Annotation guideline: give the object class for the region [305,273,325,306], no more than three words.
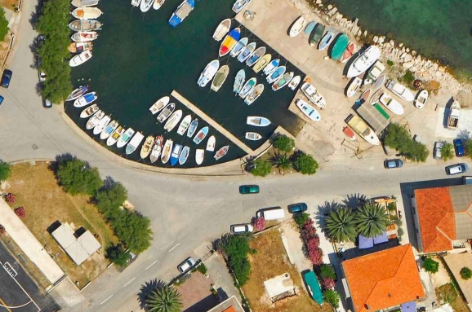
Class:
boat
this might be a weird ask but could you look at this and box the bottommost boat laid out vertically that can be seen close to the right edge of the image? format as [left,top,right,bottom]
[448,100,461,129]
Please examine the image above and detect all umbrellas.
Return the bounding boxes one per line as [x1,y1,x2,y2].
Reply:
[358,235,372,247]
[373,232,387,245]
[400,302,416,312]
